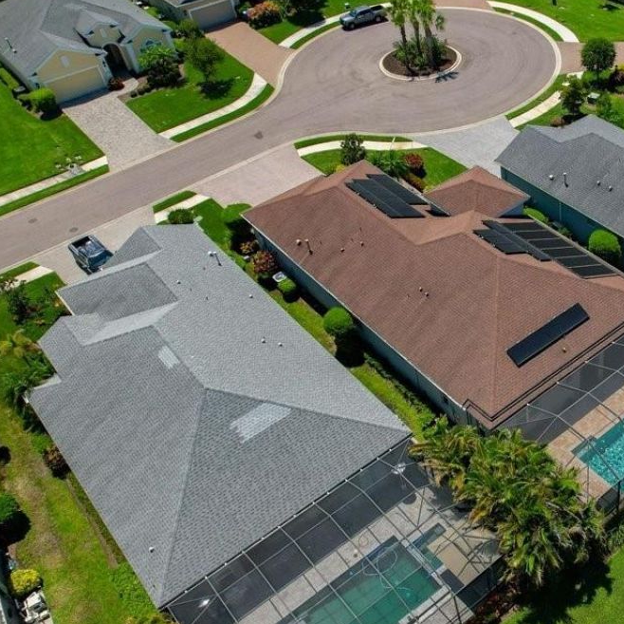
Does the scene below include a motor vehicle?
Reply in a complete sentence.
Yes, a motor vehicle is visible in the scene.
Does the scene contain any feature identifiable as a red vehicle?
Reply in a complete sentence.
No, I find no red vehicle anywhere in the image.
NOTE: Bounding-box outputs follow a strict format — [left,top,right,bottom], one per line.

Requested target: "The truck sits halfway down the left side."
[62,225,116,272]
